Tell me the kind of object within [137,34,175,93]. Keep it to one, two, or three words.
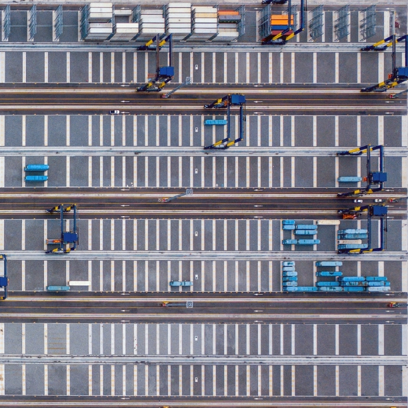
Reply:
container crane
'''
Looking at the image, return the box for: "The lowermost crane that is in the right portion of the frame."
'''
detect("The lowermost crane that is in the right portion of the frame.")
[338,205,387,256]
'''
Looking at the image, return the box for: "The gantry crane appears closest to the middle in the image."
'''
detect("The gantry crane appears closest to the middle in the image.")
[203,94,246,151]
